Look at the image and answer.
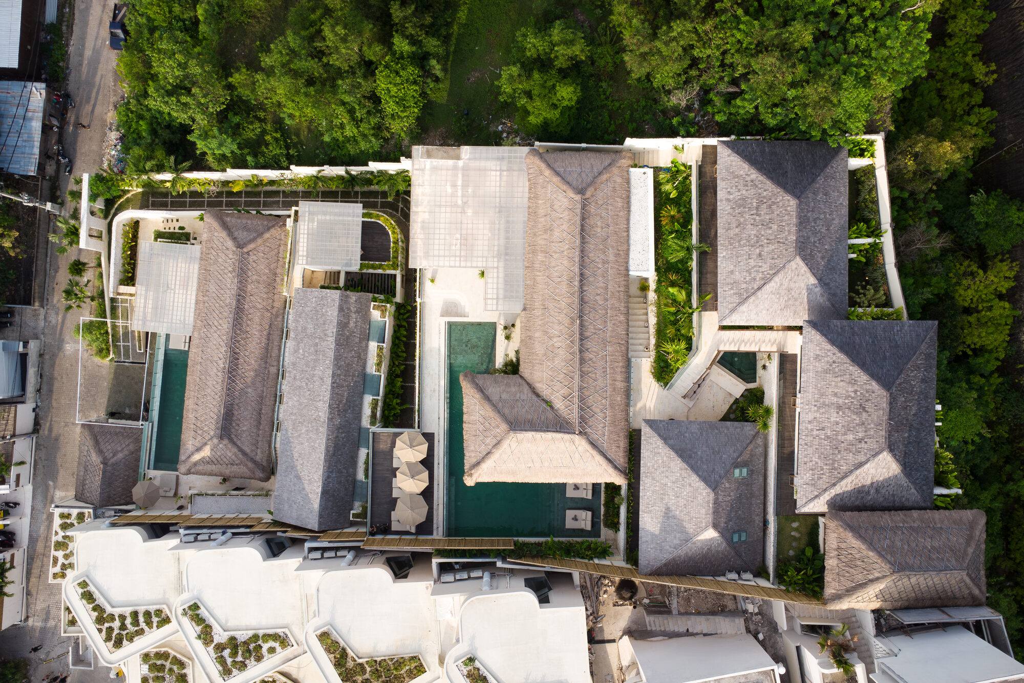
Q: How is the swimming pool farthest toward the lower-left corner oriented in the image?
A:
vertically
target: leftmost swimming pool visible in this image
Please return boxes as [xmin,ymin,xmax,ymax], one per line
[150,335,189,469]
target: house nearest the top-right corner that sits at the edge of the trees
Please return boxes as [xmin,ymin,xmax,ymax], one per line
[716,140,849,327]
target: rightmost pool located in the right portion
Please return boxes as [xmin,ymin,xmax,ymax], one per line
[722,354,756,383]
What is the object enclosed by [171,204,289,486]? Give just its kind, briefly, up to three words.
house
